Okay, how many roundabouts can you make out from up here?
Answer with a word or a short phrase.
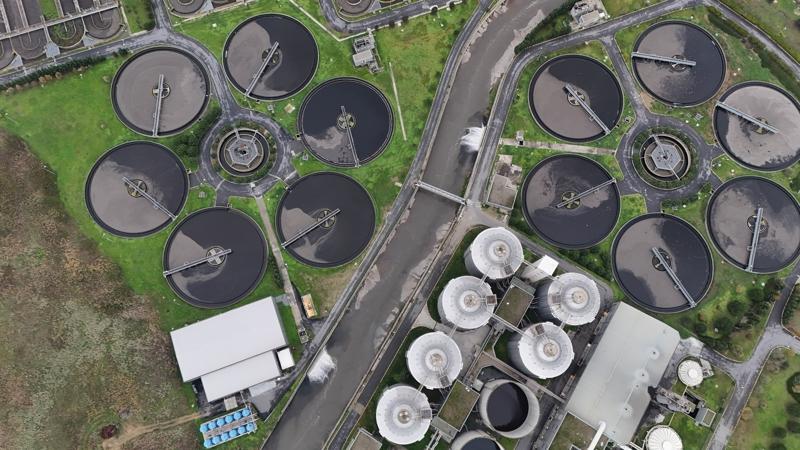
two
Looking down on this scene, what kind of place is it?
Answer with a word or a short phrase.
industrial area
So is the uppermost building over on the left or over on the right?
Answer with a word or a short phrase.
right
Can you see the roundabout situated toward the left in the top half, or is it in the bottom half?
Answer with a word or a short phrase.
top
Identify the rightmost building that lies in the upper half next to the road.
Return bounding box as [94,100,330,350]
[570,0,609,30]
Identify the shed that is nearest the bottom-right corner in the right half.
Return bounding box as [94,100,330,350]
[692,407,716,427]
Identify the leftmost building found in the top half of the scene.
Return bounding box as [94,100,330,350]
[352,31,384,74]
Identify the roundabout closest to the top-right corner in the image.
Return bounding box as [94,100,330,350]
[623,120,709,202]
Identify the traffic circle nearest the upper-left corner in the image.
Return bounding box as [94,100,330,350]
[199,114,288,196]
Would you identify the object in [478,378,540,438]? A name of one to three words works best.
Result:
storage tank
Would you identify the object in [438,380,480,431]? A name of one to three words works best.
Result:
building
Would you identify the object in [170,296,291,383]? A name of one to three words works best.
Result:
building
